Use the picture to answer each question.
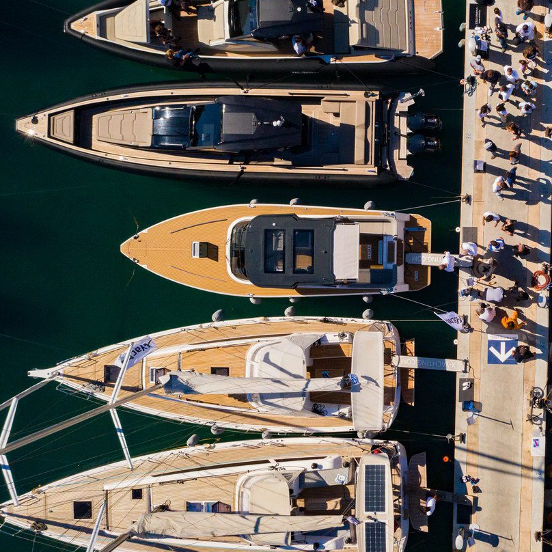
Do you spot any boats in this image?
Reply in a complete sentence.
Yes, looking at the shot, I can spot a boat.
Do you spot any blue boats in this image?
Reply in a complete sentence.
No, there is no blue boat in the image.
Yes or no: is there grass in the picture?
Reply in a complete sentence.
No, grass can't be seen anywhere here.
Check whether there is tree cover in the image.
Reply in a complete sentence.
No, the scene doesn't show any tree cover.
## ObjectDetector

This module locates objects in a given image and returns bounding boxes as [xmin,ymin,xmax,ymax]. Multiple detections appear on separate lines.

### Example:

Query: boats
[121,203,432,298]
[0,432,429,552]
[59,0,444,75]
[0,315,415,506]
[11,78,441,186]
